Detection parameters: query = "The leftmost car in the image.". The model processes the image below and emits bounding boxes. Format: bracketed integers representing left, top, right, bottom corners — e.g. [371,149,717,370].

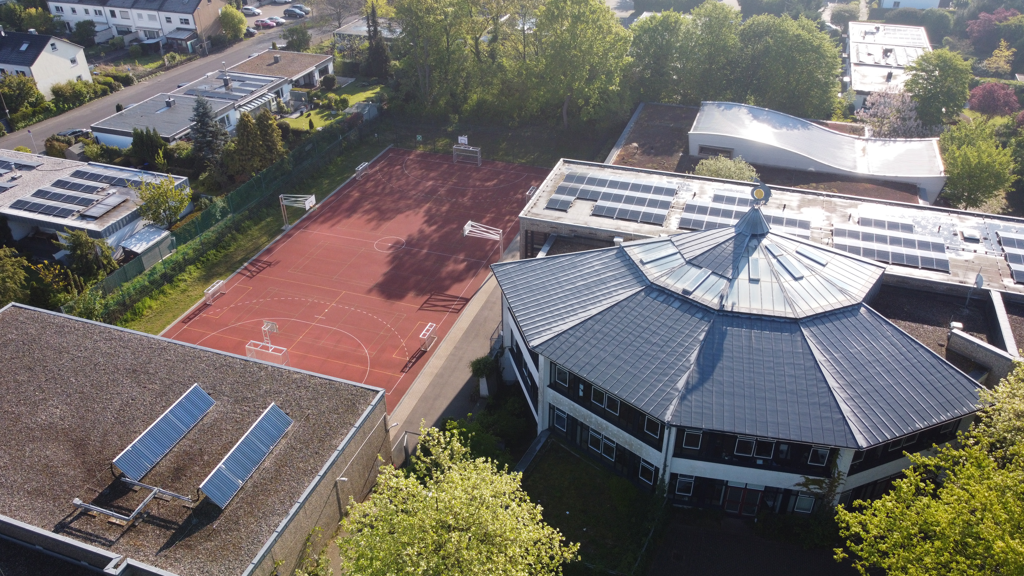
[56,123,90,138]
